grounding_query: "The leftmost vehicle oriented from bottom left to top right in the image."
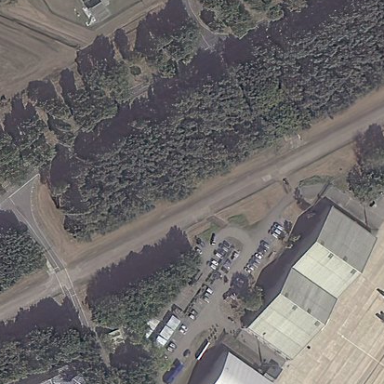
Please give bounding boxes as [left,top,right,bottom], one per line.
[166,361,183,382]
